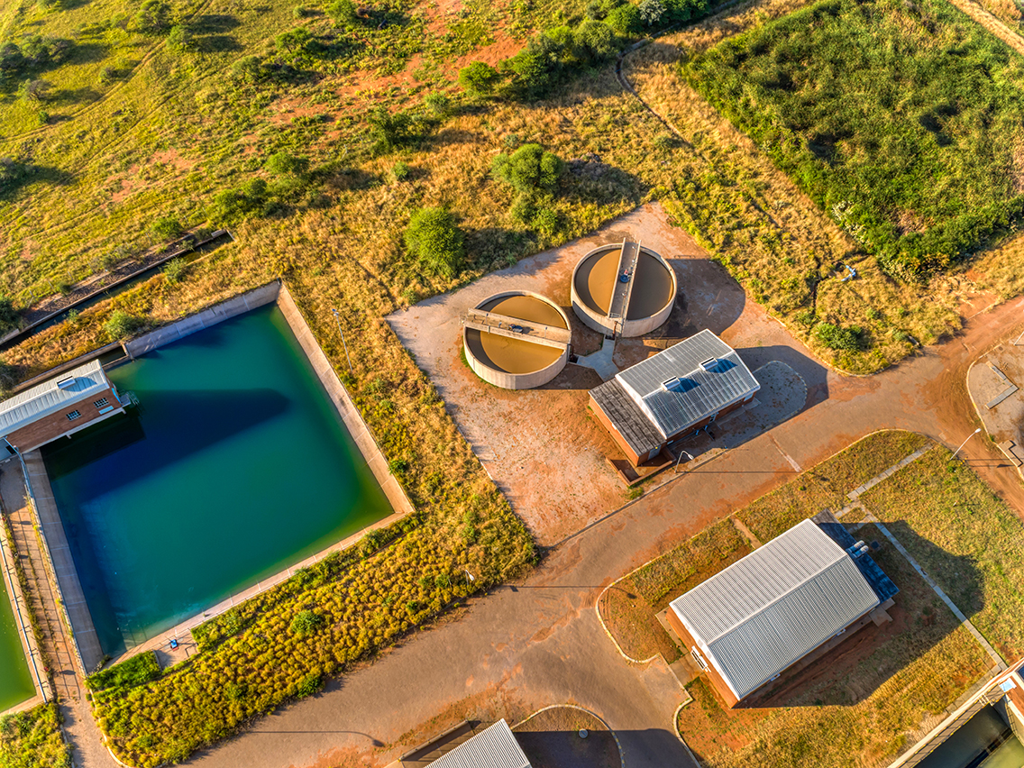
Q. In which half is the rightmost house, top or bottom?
bottom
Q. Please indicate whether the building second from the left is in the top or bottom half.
bottom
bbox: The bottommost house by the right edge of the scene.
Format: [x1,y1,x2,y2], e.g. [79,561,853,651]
[993,660,1024,716]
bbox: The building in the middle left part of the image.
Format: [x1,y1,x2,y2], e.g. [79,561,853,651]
[0,358,140,459]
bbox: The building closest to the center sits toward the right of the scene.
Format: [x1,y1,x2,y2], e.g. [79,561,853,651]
[589,329,761,464]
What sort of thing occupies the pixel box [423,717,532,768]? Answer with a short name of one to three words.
building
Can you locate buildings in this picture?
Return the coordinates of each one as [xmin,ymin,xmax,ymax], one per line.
[423,717,532,768]
[667,509,900,705]
[589,329,761,464]
[993,660,1024,716]
[0,358,140,459]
